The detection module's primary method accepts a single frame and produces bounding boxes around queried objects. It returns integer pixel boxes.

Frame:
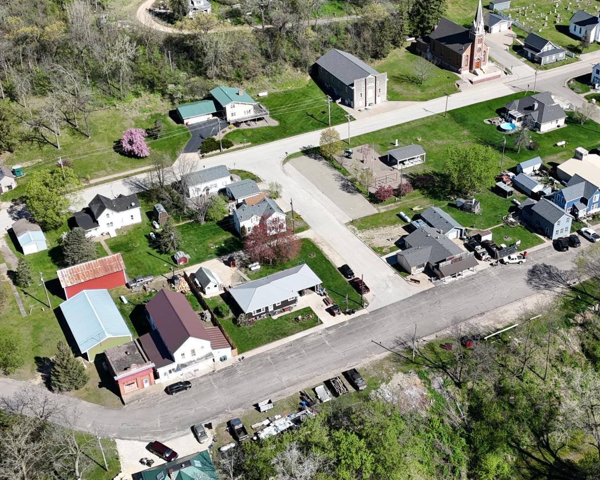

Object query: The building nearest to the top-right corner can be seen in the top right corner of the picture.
[565,9,600,43]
